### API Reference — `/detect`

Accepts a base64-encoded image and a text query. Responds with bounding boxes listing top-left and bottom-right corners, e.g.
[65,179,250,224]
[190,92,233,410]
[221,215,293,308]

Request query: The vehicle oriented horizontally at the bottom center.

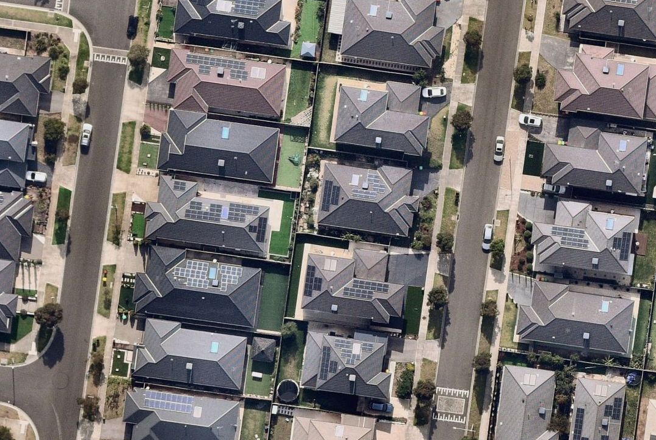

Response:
[369,400,394,414]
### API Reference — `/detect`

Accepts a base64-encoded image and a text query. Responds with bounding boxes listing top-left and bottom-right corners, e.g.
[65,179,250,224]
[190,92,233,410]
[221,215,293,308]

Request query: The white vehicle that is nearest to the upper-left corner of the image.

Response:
[80,121,93,149]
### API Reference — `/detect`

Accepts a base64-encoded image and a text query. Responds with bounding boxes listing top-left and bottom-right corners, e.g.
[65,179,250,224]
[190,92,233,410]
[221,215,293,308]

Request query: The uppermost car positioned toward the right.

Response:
[421,86,446,99]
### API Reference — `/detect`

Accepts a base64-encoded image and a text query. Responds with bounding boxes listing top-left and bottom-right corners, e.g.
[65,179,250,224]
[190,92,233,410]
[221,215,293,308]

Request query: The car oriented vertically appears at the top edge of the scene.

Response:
[127,15,140,40]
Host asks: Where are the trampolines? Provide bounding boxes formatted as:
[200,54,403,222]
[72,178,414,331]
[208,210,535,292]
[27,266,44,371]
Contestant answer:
[626,372,639,385]
[277,379,299,401]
